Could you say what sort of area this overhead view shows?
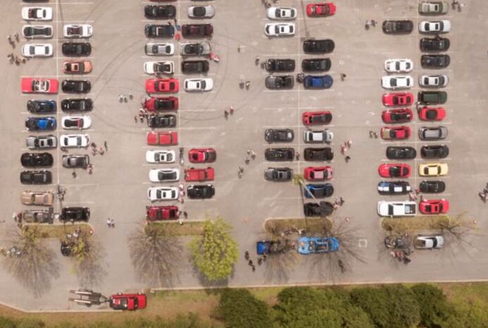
parking lot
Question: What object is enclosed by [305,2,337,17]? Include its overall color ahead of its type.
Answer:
red car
